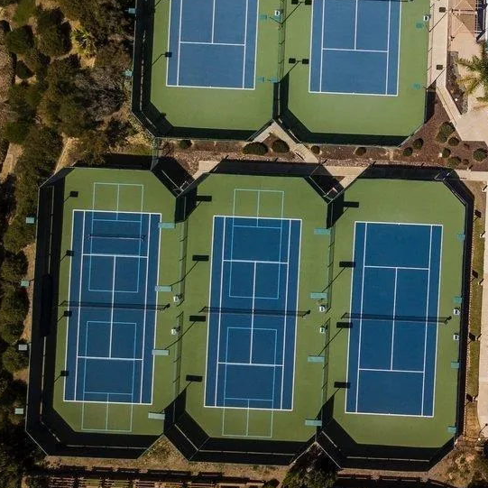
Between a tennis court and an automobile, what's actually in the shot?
tennis court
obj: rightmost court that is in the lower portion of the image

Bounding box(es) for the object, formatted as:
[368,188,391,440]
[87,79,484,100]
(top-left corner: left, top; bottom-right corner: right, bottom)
[321,178,465,459]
